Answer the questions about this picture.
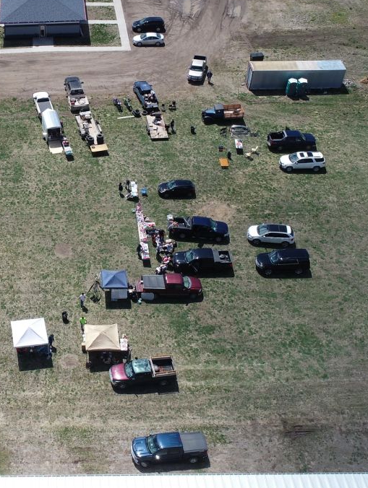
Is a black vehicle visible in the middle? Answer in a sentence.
Yes, in the middle there is a black vehicle.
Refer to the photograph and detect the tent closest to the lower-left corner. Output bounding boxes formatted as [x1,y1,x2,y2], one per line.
[11,318,49,363]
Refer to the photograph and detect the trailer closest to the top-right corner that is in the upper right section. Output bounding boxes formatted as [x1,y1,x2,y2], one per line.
[246,62,347,89]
